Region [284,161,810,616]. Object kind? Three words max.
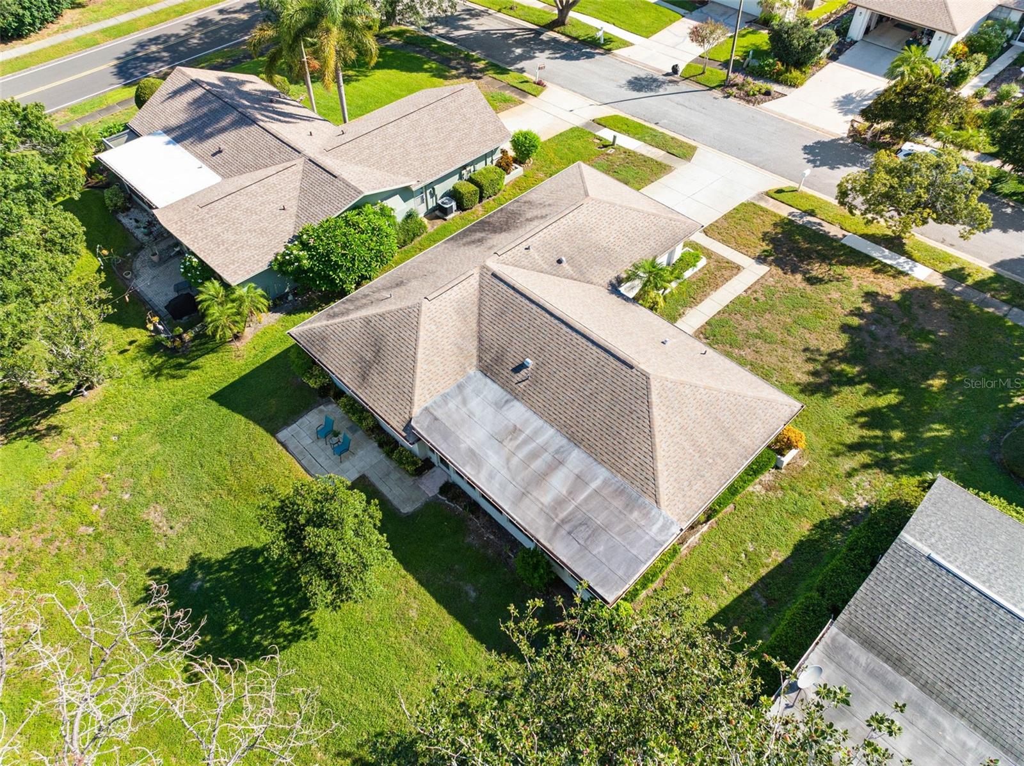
house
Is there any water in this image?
No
